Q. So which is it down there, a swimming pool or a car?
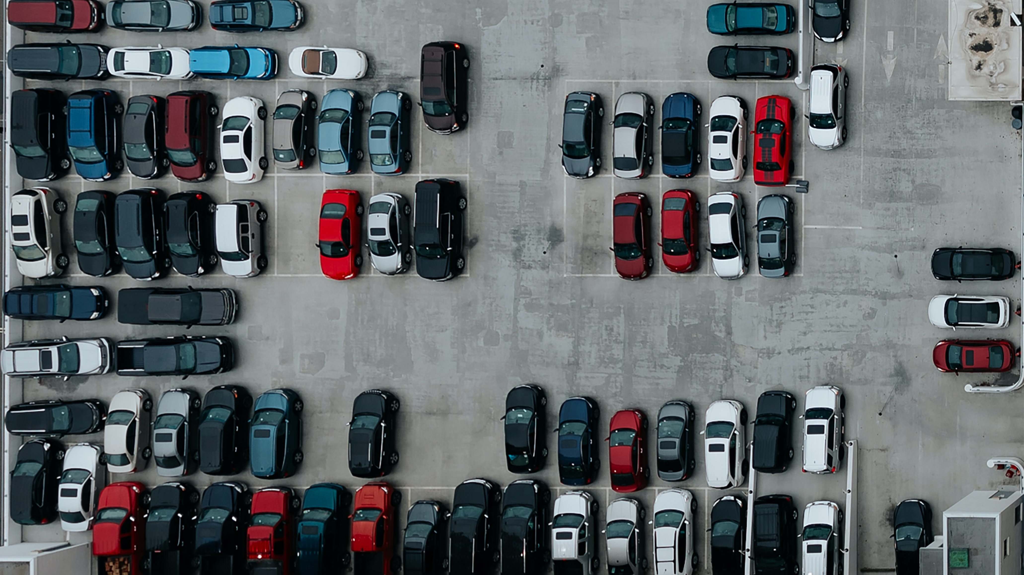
car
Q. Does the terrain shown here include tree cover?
No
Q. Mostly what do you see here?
paved ground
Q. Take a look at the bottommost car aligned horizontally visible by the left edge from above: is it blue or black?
black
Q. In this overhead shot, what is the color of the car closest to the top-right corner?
black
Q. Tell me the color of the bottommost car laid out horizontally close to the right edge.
red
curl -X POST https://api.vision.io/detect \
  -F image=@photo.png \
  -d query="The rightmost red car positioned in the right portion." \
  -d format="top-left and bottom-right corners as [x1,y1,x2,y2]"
[933,336,1015,377]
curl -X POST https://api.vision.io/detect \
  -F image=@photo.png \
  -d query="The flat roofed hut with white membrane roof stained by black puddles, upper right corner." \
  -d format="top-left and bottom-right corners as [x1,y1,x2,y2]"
[948,0,1024,101]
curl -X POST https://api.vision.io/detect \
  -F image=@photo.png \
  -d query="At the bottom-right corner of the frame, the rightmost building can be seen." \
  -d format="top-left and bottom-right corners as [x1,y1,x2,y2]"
[943,491,1024,575]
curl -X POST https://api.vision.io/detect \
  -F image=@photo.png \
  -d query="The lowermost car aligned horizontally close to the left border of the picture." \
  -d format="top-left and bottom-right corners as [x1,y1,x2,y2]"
[5,397,107,443]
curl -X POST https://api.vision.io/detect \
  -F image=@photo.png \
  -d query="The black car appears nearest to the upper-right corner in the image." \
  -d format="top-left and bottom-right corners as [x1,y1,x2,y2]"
[808,0,850,43]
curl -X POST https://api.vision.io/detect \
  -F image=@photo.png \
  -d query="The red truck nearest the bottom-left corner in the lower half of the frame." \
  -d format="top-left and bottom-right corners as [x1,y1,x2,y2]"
[94,481,151,575]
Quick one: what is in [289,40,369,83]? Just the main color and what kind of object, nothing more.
white car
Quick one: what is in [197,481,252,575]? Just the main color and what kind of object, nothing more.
black truck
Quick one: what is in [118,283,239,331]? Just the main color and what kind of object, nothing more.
black truck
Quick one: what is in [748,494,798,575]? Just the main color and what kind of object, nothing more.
black car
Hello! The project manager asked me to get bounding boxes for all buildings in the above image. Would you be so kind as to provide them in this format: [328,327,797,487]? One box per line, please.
[948,0,1024,101]
[943,491,1024,575]
[0,542,89,575]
